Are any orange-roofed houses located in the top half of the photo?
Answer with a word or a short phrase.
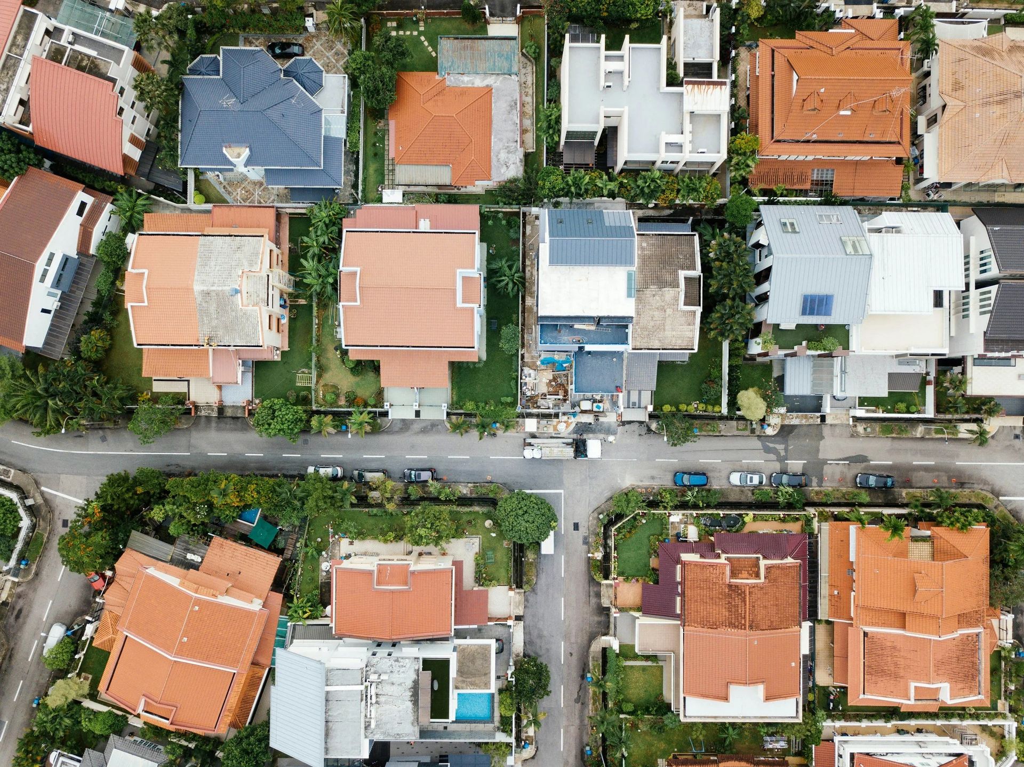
Yes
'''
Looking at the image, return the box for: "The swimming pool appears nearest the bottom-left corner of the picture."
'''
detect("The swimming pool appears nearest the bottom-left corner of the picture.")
[236,507,259,526]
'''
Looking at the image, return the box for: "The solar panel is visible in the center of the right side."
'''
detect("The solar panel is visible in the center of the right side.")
[801,294,833,316]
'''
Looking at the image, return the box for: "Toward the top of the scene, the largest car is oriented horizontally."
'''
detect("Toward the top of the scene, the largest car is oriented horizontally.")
[268,41,305,59]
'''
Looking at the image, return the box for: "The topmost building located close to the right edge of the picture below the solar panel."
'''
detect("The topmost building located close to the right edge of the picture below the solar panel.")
[817,522,1001,712]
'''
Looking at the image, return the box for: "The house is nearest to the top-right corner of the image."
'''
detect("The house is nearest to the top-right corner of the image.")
[909,31,1024,190]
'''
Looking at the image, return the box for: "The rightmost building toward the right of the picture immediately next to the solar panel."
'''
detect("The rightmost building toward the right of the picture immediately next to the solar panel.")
[838,212,965,396]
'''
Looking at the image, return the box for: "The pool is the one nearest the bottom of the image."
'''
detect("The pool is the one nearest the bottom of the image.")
[456,693,491,720]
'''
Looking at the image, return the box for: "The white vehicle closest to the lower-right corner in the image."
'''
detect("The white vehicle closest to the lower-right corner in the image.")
[728,471,765,488]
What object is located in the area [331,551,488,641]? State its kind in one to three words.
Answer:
house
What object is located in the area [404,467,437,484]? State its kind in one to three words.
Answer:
car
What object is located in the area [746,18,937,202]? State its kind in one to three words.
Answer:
house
